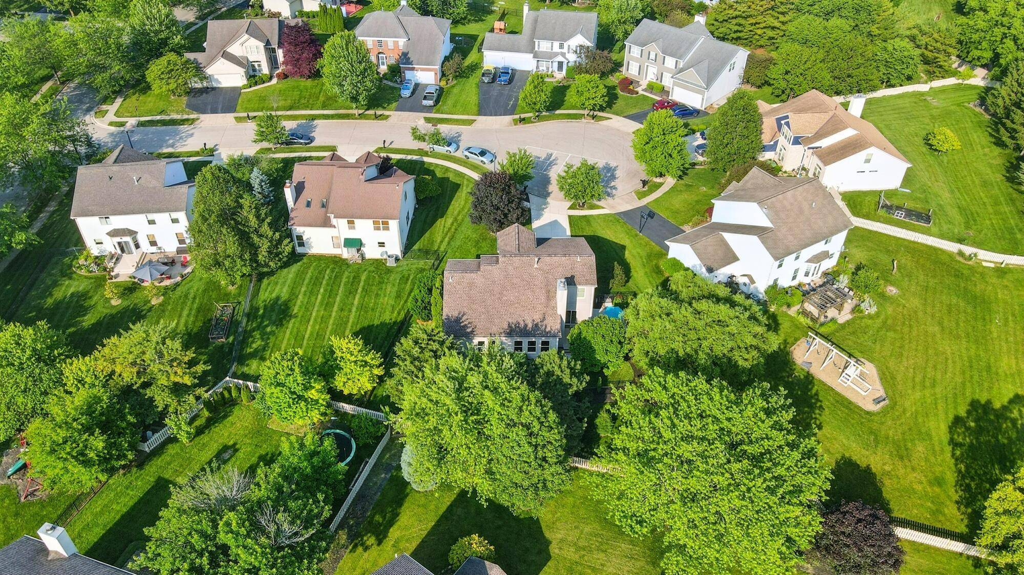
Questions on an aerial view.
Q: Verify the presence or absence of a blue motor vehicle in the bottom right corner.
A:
No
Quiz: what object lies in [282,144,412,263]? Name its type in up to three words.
house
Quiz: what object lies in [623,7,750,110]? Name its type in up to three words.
house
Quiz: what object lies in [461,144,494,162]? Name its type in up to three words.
car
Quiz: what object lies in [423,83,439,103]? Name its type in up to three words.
vehicle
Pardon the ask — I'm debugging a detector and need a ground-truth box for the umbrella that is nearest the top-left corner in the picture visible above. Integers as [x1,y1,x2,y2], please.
[133,261,169,285]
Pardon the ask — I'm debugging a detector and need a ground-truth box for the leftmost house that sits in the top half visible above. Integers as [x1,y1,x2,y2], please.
[70,142,196,253]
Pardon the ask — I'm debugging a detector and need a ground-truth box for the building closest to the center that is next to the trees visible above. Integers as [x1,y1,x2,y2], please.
[441,222,597,354]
